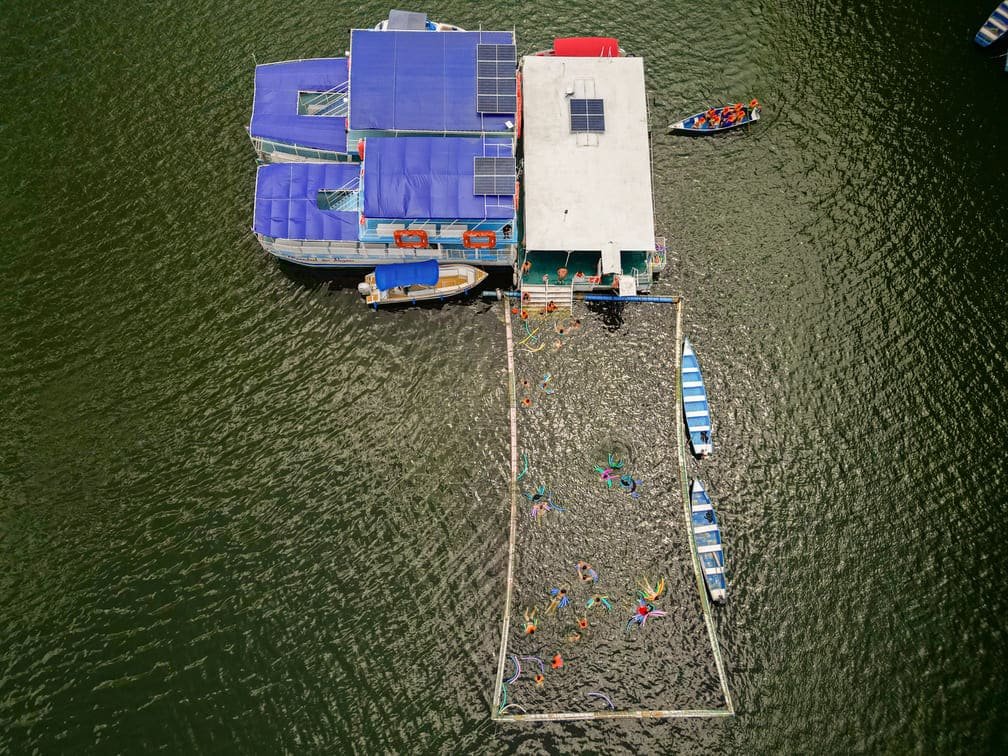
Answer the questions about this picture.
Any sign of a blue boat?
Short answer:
Yes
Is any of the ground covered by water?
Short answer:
Yes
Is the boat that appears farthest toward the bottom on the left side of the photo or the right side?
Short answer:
right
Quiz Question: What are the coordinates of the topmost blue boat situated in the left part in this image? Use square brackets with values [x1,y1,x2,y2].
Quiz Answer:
[243,20,516,170]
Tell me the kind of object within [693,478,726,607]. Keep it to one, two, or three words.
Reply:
boat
